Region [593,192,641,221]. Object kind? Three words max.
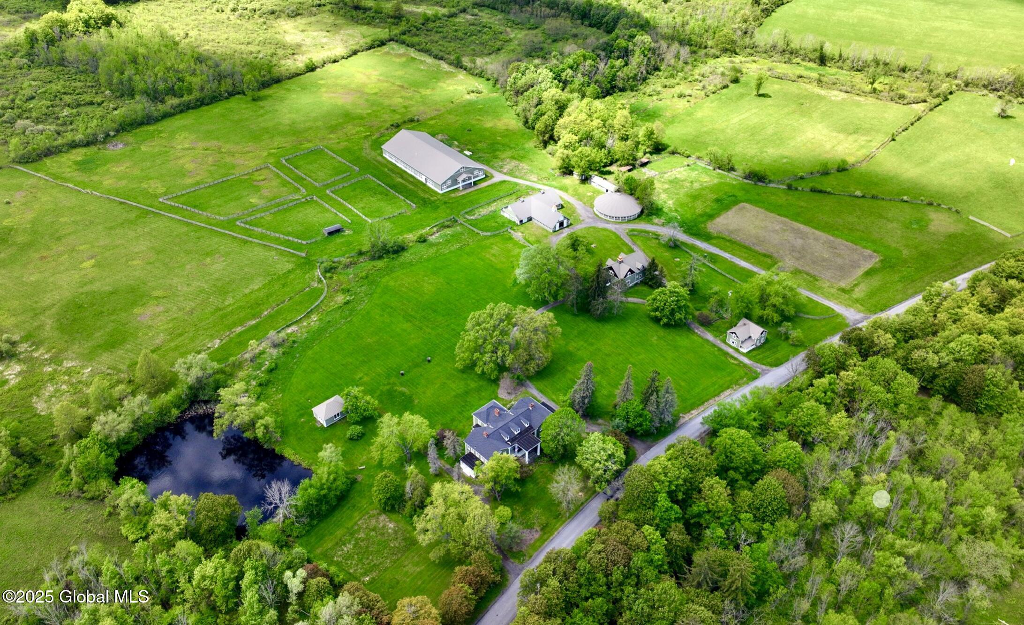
building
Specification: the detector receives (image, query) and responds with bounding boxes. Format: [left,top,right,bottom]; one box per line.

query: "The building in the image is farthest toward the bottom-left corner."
[311,392,347,428]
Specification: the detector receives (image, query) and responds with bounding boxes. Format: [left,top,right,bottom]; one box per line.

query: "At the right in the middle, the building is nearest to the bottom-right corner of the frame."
[726,316,769,352]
